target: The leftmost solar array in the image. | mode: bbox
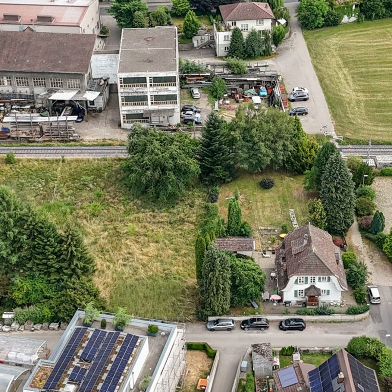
[278,365,297,392]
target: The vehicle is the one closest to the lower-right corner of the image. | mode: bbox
[366,281,382,303]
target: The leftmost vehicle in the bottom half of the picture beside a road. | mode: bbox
[207,319,236,332]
